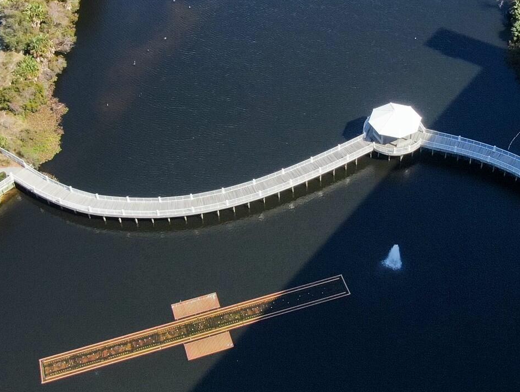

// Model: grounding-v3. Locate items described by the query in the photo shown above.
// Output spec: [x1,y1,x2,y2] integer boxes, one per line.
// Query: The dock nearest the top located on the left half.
[171,291,221,320]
